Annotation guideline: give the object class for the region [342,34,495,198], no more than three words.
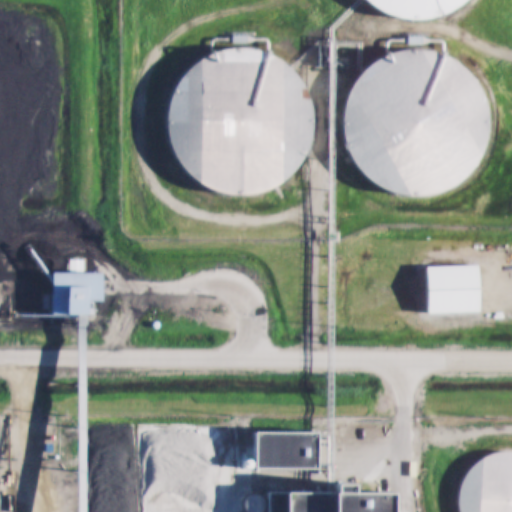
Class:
storage tank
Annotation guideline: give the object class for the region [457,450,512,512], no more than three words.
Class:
storage tank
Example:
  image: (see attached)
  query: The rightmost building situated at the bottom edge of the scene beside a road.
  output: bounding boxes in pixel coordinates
[340,484,398,512]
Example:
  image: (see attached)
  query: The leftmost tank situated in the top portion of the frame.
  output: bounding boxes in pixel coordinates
[168,32,318,200]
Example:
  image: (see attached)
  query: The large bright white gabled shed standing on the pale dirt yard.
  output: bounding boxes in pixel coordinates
[427,265,480,314]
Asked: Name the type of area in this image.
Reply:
industrial area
